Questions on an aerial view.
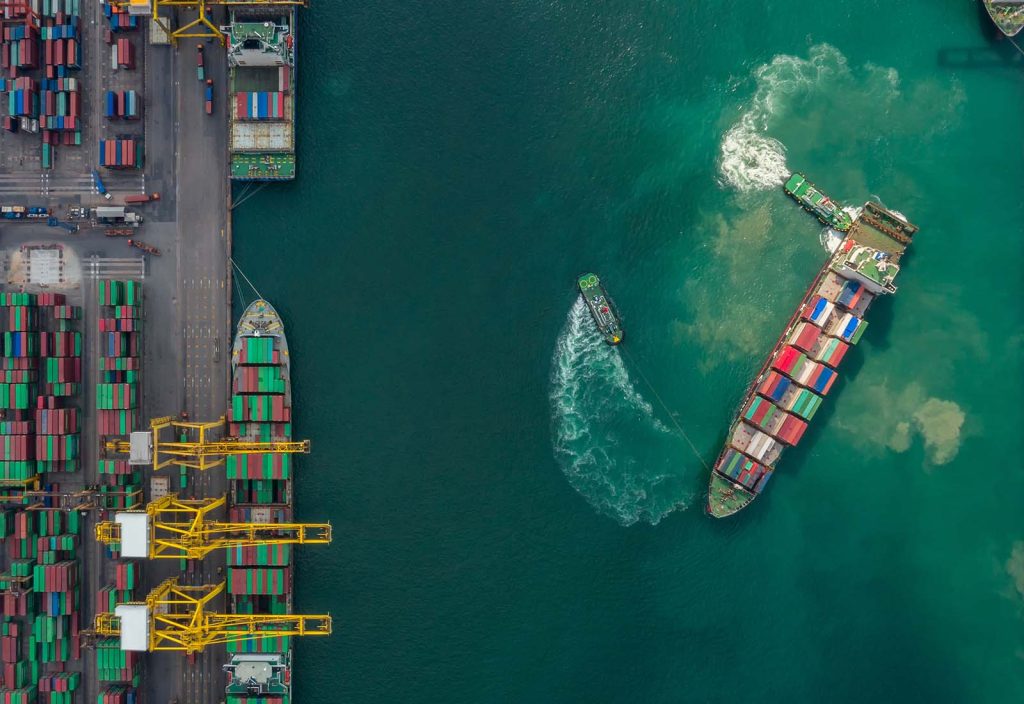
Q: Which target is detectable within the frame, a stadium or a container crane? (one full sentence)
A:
It is a container crane that can be seen here.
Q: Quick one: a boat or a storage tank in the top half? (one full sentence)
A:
You can see a boat in the top half.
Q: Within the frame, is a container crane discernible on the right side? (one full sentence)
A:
No, on the right side there is no container crane.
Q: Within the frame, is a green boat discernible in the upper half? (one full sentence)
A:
Yes, a green boat is visible in the upper half.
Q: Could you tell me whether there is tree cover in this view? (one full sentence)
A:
No, the scene doesn't show any tree cover.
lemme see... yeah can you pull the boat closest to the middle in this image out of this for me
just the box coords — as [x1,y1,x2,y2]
[577,270,622,345]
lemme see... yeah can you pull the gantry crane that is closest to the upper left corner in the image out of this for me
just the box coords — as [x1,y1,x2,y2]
[0,2,40,36]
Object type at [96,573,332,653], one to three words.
container crane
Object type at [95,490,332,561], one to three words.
container crane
